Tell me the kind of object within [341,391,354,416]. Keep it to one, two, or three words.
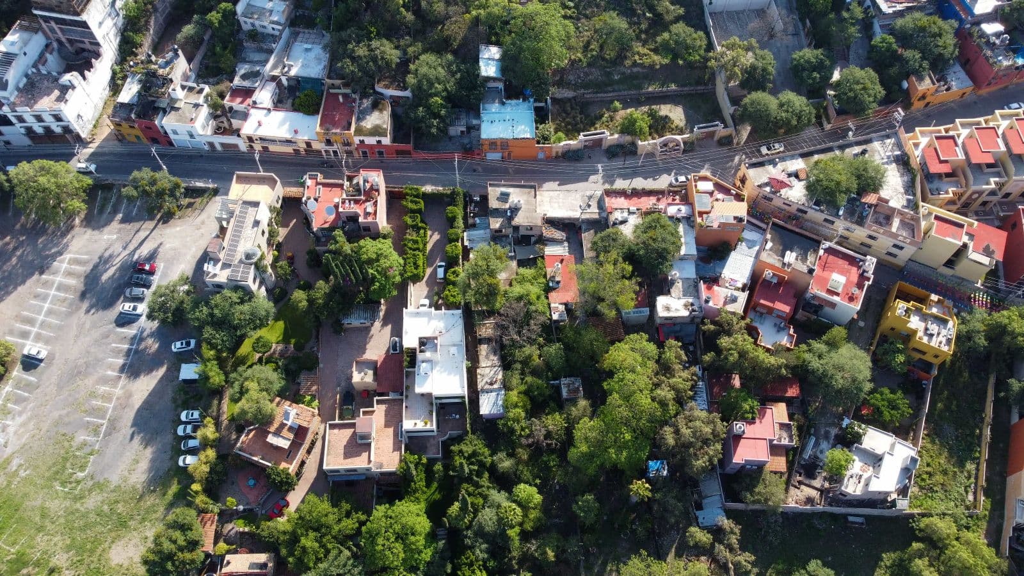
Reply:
vehicle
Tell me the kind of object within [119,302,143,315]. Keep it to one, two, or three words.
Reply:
vehicle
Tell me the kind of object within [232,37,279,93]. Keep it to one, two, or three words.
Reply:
house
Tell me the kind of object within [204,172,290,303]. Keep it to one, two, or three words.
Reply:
house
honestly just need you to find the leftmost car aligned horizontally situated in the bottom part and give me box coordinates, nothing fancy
[22,347,49,360]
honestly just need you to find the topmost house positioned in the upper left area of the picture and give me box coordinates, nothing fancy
[239,0,294,46]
